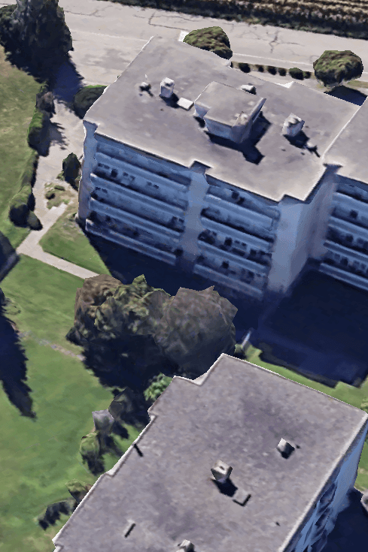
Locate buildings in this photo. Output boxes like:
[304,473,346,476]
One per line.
[51,352,368,552]
[74,40,368,291]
